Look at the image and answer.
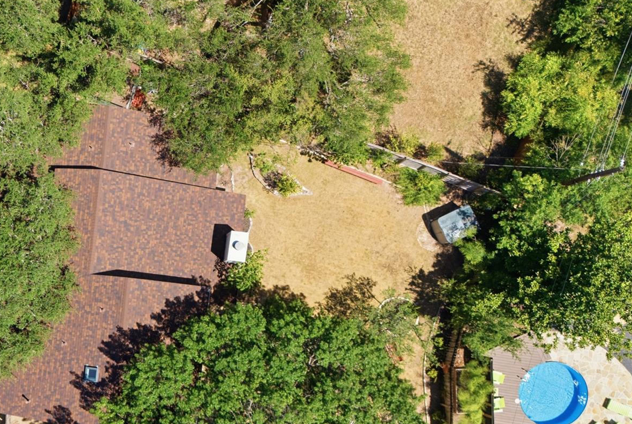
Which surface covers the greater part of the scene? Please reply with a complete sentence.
Most of the picture is covered by trees.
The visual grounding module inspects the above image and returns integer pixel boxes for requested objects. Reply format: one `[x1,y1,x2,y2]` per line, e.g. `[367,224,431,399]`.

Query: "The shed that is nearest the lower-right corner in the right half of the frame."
[426,206,480,245]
